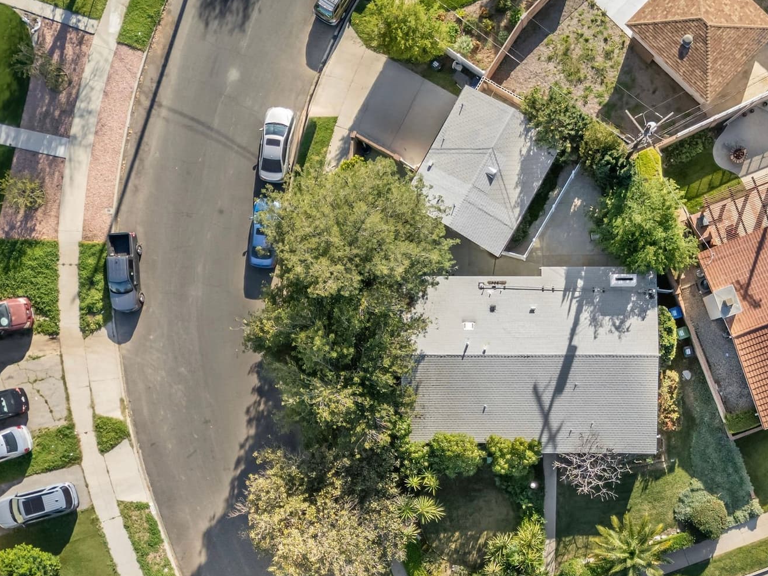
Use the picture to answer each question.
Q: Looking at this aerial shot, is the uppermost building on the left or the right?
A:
right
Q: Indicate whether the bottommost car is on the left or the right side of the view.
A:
left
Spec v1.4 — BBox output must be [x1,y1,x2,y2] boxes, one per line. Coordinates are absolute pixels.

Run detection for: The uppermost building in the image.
[624,0,768,104]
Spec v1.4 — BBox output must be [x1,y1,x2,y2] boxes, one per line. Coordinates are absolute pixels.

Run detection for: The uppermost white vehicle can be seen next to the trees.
[255,107,292,182]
